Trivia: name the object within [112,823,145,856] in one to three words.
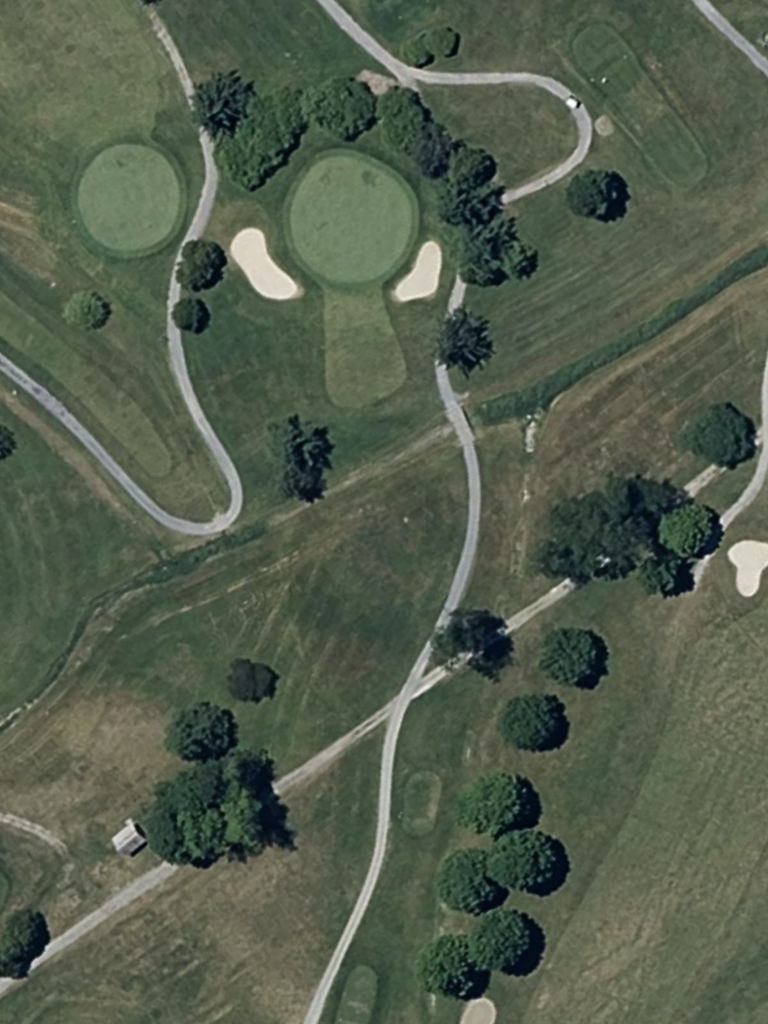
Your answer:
shed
